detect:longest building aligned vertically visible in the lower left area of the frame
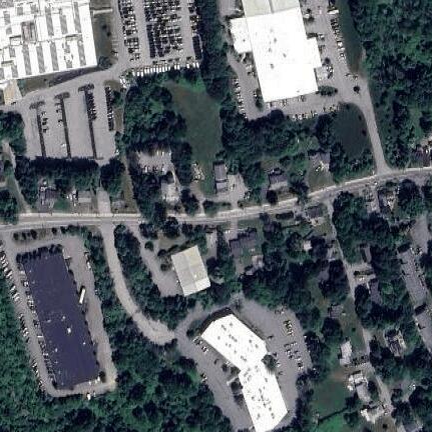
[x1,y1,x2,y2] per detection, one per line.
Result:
[20,248,100,391]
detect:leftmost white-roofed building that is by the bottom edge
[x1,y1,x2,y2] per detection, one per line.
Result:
[201,314,288,432]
